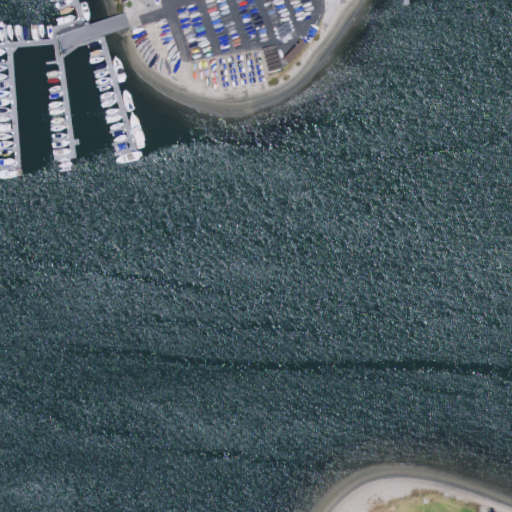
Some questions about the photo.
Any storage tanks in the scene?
No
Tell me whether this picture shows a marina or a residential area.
marina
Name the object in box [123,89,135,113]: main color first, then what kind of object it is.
white boat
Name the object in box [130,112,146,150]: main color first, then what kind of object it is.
white boat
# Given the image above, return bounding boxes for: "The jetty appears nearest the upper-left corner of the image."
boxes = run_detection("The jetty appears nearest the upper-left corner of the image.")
[0,24,54,47]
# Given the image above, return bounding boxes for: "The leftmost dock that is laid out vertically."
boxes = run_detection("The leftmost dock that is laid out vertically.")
[0,46,22,176]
